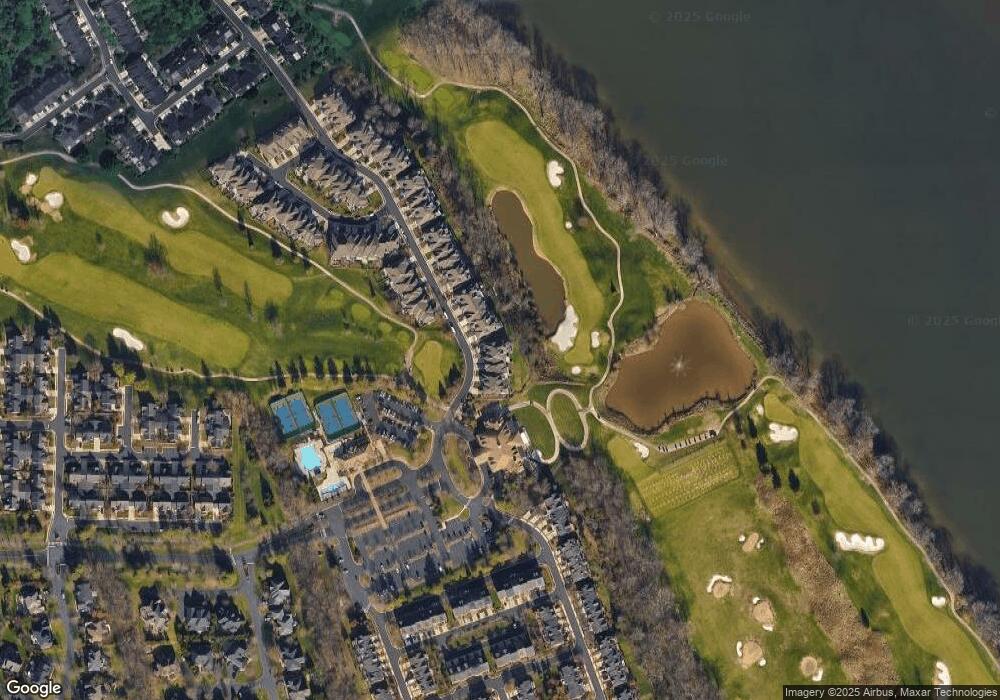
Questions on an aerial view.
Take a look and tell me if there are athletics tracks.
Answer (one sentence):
No, there isn't any athletics track down there.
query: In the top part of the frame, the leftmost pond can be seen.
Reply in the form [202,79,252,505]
[493,190,565,336]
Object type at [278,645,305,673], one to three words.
house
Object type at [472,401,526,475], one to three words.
building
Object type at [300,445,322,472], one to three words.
swimming pool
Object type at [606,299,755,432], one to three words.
pond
